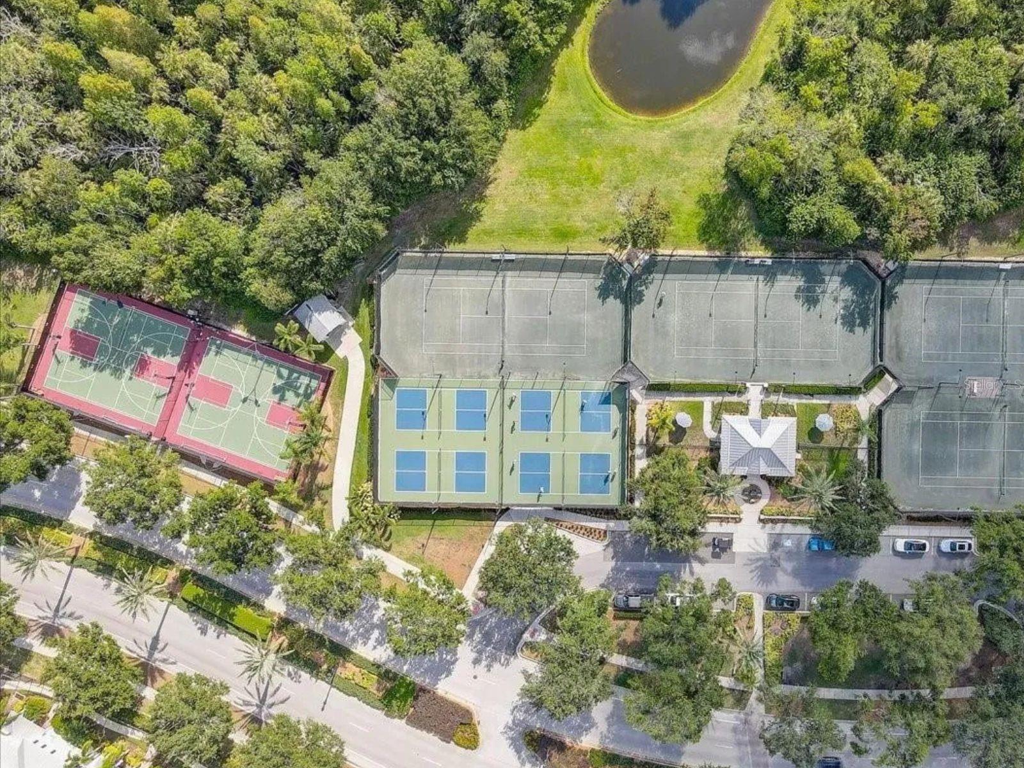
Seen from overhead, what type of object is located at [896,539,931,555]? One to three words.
car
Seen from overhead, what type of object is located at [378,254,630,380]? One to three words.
tennis court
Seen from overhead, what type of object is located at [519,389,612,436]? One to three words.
sports court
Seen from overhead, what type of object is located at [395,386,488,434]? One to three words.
sports court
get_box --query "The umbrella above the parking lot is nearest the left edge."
[675,412,691,428]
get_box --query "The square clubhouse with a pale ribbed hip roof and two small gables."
[717,415,797,477]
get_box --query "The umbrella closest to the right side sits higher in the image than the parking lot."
[814,413,832,431]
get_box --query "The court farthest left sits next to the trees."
[29,286,204,443]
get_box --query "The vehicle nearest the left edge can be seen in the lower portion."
[614,595,654,612]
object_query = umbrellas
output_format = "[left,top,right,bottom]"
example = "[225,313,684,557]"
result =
[814,413,832,431]
[675,412,691,428]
